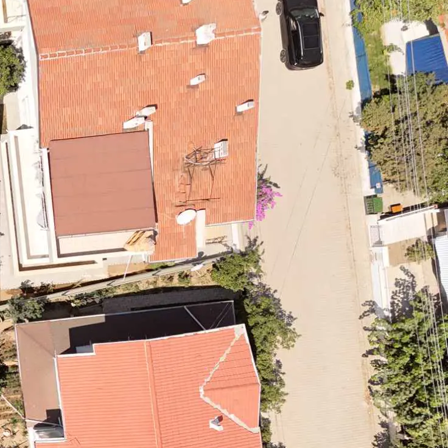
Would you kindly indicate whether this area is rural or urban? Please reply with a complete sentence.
It looks urban.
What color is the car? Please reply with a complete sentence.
The color of the car is black.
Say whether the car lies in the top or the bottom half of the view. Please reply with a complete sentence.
It is in the top half that the car appears.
